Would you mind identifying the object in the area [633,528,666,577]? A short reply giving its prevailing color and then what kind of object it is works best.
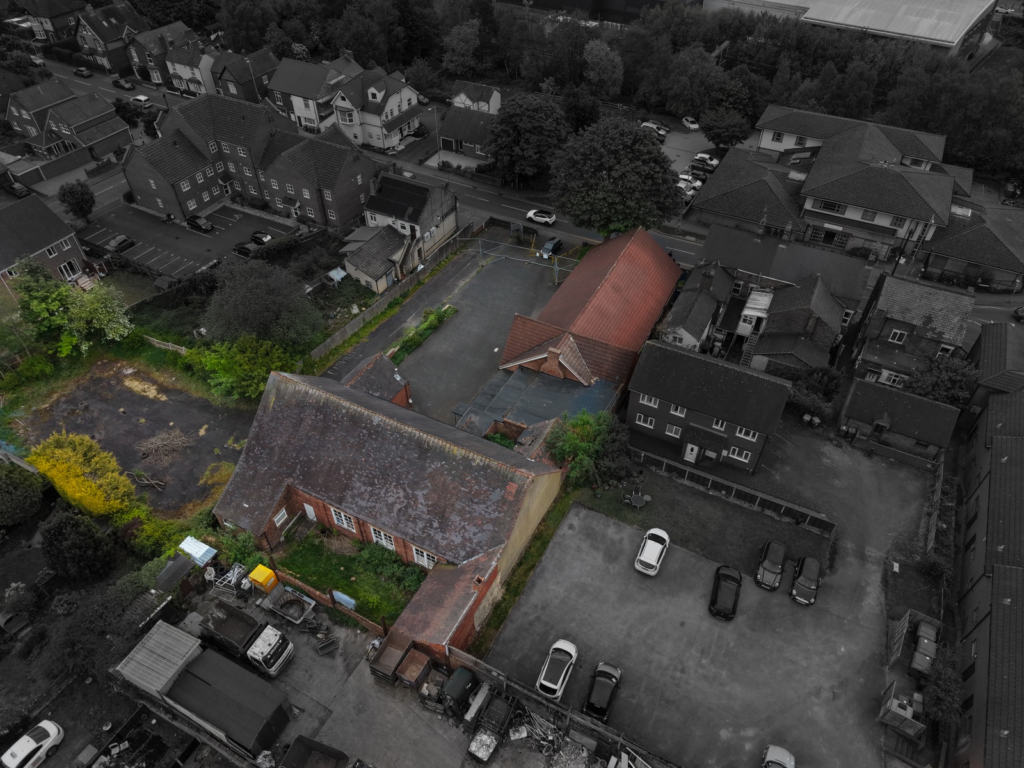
white car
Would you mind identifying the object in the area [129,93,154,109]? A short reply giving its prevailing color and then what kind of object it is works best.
gray car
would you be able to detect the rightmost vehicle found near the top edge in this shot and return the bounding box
[991,2,1016,17]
